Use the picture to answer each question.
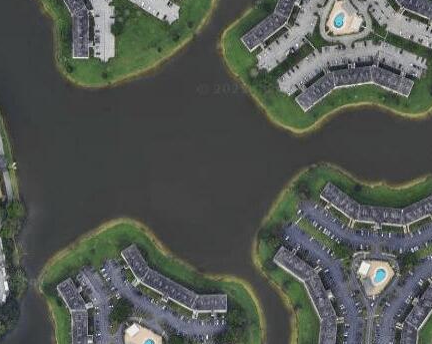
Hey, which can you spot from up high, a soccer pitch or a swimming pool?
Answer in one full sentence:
The one in the frame is a swimming pool.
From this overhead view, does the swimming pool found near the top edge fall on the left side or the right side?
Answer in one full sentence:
You can find the swimming pool found near the top edge on the right side of the picture.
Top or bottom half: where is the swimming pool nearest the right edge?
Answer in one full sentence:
The swimming pool nearest the right edge sits in the bottom half of the picture.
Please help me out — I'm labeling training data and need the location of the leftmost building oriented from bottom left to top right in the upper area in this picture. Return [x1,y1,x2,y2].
[242,0,298,54]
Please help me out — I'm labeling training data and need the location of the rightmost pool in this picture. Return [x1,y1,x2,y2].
[359,261,395,294]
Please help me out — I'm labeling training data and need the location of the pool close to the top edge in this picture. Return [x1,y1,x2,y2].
[325,0,364,35]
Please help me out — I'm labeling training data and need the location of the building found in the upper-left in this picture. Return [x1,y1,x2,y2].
[63,0,94,61]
